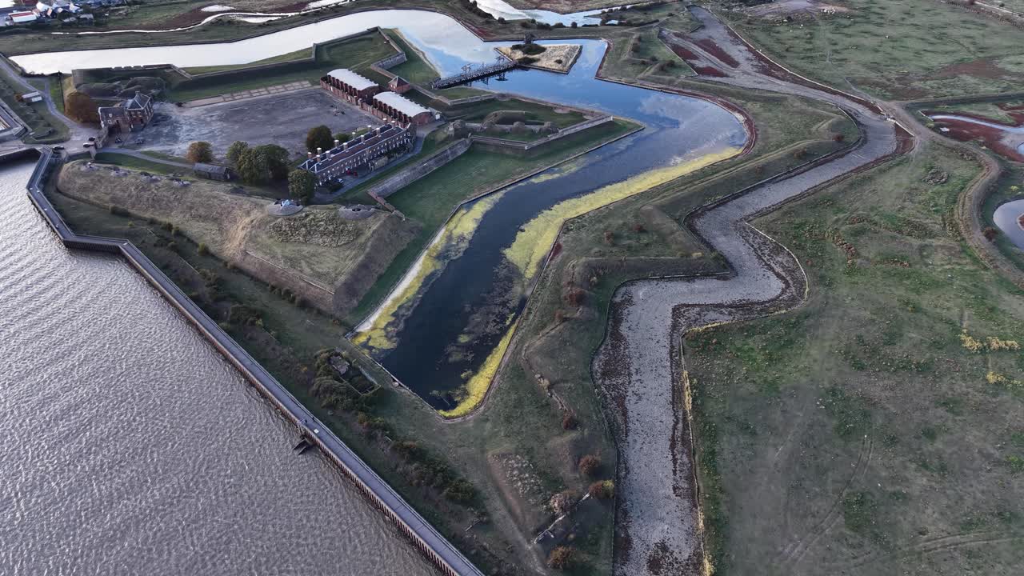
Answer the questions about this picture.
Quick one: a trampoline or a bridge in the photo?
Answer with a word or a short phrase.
bridge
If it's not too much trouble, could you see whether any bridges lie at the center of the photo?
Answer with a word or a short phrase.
No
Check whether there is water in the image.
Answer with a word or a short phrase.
Yes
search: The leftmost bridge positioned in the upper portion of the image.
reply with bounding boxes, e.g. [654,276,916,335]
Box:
[430,56,518,88]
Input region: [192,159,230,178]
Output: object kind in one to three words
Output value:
shed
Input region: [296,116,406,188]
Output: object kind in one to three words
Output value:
building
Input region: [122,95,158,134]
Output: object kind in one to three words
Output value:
house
